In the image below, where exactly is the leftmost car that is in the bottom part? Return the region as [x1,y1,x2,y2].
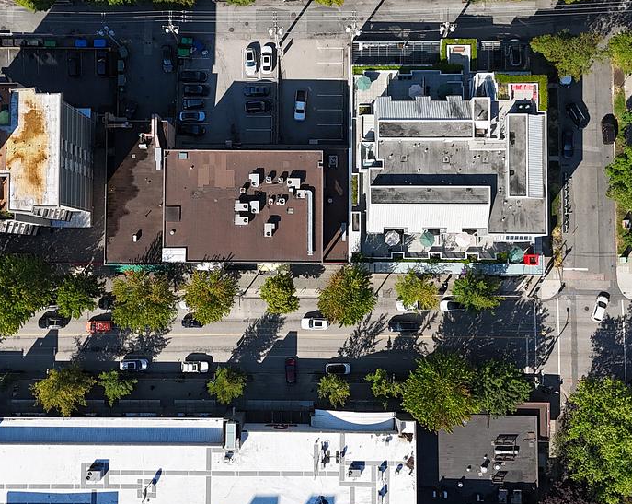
[40,318,68,330]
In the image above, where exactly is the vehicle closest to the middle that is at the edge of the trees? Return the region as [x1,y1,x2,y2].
[301,319,329,331]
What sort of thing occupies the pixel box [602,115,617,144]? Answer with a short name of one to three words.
car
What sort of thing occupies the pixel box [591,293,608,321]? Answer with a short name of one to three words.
car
